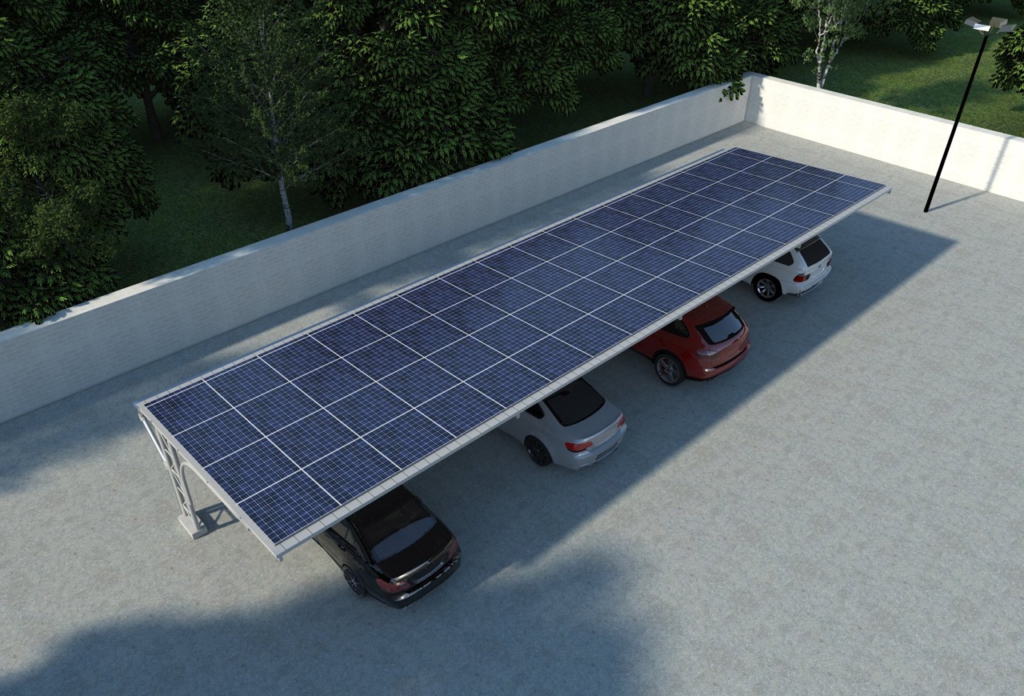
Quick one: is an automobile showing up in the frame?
Yes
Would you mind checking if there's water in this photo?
No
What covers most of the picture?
paved ground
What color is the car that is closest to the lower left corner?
black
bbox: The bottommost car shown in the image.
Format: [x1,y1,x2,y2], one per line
[315,484,458,604]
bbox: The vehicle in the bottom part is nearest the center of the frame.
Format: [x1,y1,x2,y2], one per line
[501,377,625,472]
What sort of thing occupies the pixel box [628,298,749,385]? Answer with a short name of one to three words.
car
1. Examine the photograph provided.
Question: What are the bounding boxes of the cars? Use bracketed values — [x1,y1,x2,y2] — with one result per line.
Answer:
[315,484,458,604]
[747,234,835,301]
[628,298,749,385]
[501,377,625,472]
